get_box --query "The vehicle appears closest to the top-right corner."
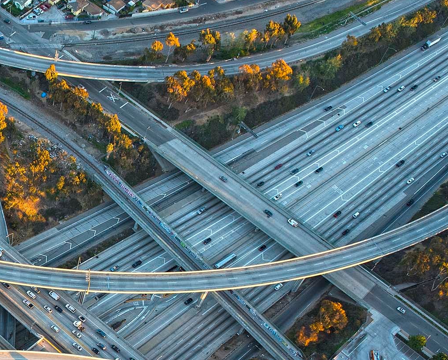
[416,32,444,53]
